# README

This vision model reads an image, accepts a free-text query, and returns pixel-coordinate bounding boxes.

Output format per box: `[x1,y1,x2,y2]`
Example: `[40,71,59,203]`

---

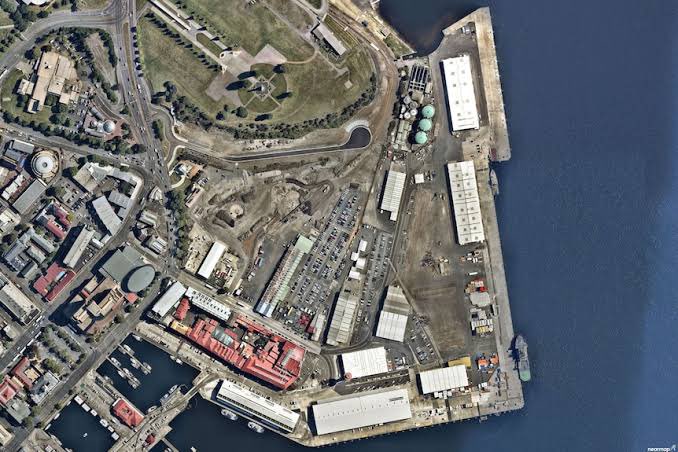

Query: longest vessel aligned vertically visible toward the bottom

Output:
[517,336,530,383]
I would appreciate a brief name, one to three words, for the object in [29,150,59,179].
building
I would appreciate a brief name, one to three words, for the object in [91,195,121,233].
building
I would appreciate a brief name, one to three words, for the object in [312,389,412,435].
shed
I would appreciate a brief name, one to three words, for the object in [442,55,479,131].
shed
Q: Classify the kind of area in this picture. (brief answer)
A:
port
